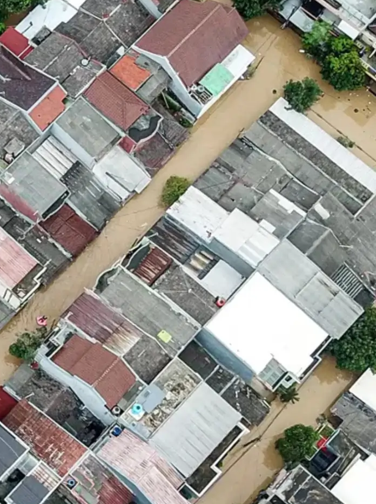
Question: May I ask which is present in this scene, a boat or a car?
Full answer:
There is a car in the scene.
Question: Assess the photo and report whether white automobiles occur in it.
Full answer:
No, no white automobile is visible in the view.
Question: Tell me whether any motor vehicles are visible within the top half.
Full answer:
No, no motor vehicle can be made out within the top half.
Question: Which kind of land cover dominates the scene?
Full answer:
The bulk of the photo consists of buildings.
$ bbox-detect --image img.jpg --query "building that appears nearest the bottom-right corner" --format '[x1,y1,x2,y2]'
[324,449,376,504]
